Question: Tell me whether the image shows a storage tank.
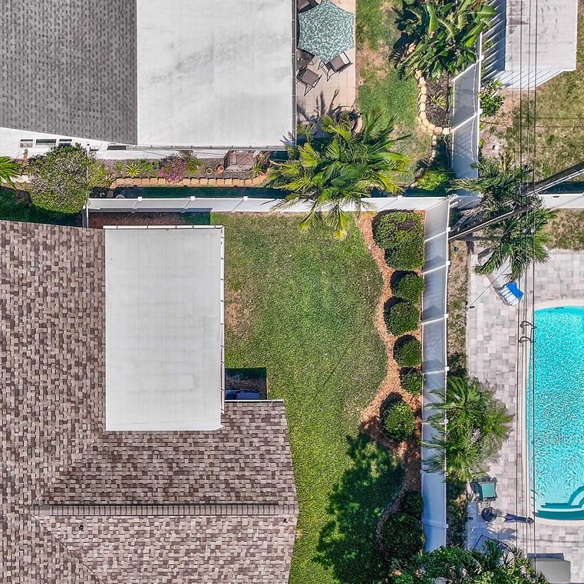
No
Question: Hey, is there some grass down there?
Yes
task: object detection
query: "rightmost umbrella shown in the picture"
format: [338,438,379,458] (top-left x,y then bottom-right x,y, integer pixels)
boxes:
[482,507,536,525]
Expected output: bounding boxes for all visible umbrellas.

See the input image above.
[295,0,356,64]
[482,507,536,525]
